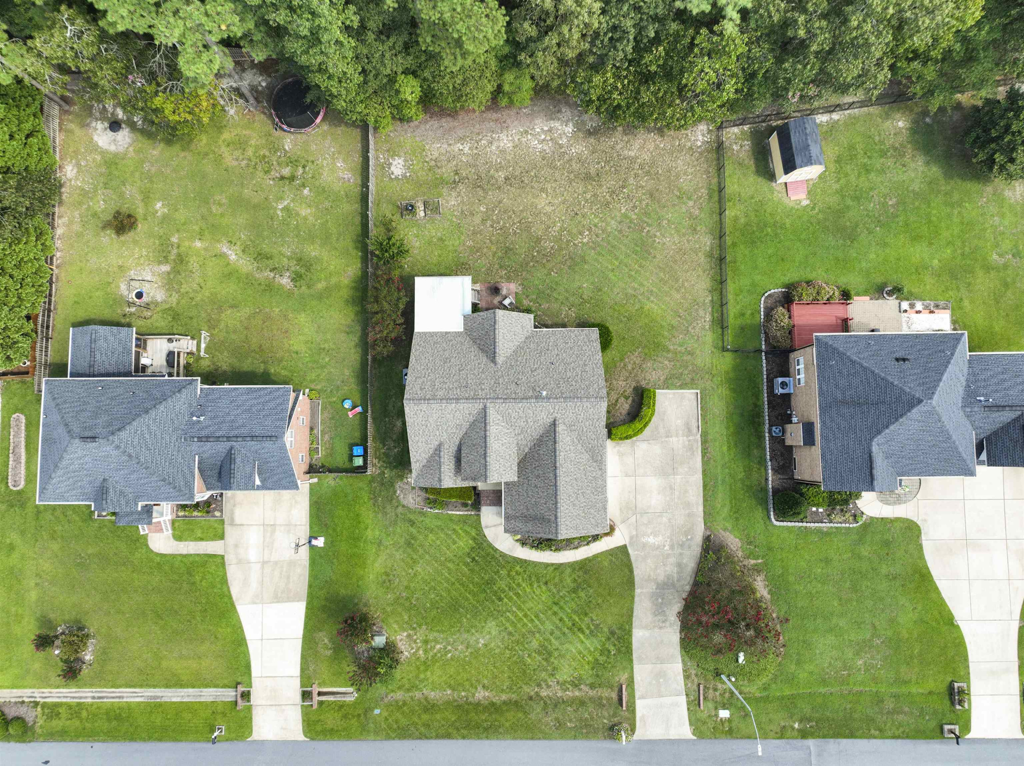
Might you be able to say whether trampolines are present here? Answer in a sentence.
Yes, there's a trampoline here.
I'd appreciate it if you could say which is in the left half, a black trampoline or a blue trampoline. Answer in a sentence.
It is a black trampoline that can be seen in the left half.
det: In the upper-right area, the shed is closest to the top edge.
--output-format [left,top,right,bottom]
[768,119,825,200]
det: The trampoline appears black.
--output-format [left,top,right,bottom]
[272,80,327,135]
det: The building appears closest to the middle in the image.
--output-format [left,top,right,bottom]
[404,275,610,539]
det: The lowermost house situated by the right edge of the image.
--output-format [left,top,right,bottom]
[784,330,1024,493]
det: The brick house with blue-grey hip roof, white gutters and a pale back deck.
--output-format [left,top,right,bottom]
[34,326,322,535]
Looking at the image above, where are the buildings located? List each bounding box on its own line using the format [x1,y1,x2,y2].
[34,326,322,535]
[784,330,1024,493]
[768,119,825,200]
[404,275,610,539]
